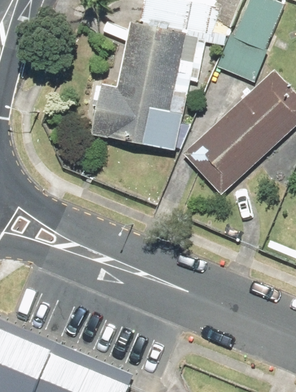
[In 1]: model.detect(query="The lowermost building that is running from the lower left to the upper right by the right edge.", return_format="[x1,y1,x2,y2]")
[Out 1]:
[184,69,296,196]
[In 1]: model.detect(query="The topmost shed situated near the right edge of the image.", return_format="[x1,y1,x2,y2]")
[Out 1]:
[219,0,286,84]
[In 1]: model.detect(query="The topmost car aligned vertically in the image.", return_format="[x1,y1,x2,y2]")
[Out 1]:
[236,188,254,222]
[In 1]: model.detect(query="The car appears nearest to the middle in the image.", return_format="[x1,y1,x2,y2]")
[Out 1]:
[177,254,210,274]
